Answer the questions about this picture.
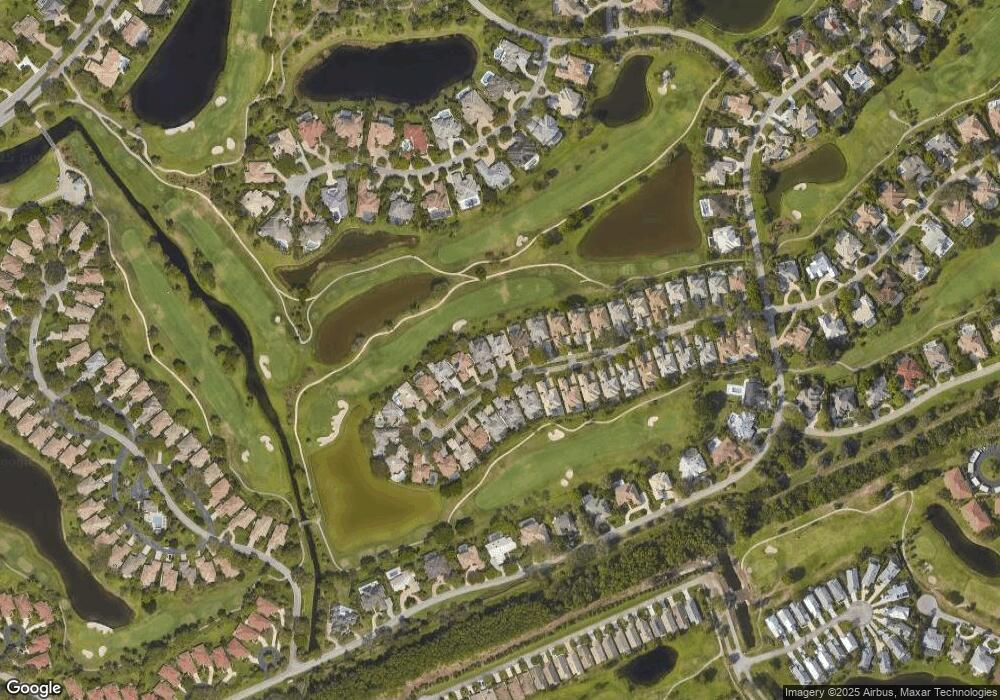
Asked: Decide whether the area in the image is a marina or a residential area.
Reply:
residential area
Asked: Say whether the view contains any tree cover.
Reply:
Yes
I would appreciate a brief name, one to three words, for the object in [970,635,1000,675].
house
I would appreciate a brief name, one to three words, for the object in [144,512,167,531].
swimming pool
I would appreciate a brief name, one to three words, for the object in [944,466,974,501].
building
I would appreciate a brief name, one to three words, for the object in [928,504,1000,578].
pond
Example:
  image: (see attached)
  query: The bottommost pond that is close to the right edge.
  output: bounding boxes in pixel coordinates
[836,672,976,700]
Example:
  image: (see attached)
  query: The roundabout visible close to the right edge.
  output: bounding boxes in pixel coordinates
[974,448,1000,488]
